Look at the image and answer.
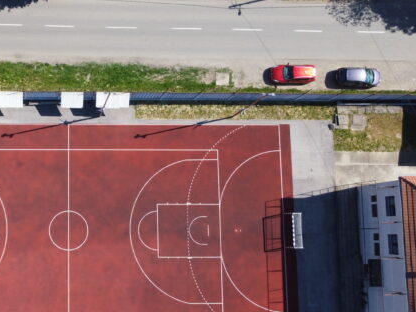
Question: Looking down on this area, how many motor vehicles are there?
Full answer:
There are 2 motor vehicles in the image.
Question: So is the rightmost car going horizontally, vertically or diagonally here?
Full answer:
In this picture, the rightmost car is oriented horizontally.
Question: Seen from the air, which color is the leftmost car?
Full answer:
The leftmost car looks red in the image.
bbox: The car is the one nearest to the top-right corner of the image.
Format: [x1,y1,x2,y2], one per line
[334,65,380,86]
